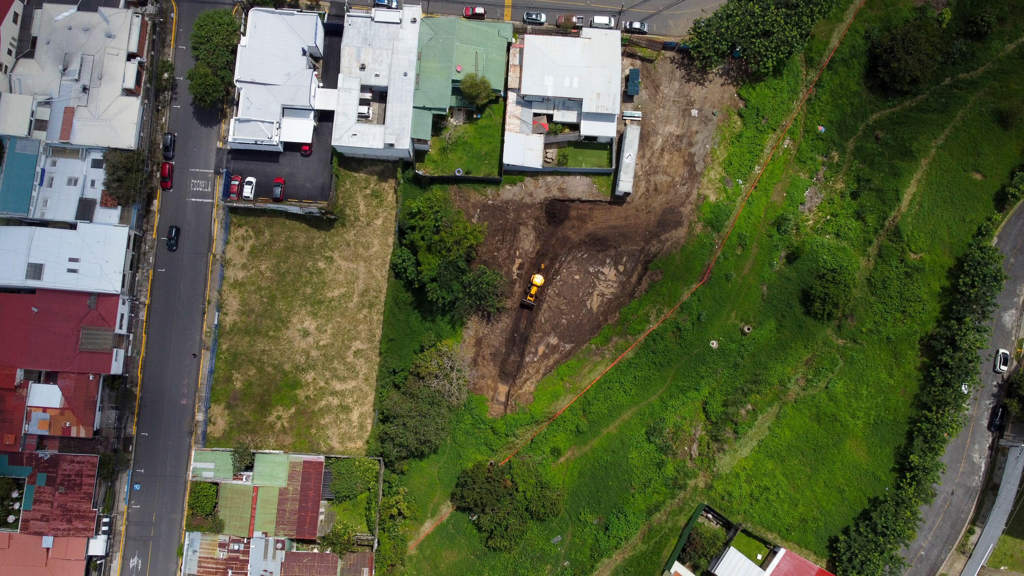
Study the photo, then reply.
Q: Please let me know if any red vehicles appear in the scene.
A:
Yes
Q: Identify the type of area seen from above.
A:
residential area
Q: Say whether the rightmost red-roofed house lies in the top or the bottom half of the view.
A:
bottom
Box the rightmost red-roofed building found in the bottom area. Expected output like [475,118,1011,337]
[763,541,836,576]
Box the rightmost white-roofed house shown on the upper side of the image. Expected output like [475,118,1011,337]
[503,28,621,168]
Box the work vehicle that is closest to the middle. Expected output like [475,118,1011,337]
[519,261,547,312]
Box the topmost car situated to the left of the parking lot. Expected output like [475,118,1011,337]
[162,132,178,160]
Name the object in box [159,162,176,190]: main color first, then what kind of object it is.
red car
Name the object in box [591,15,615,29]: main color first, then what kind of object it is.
white vehicle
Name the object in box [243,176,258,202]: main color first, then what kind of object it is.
white car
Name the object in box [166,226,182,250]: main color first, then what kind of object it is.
black car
